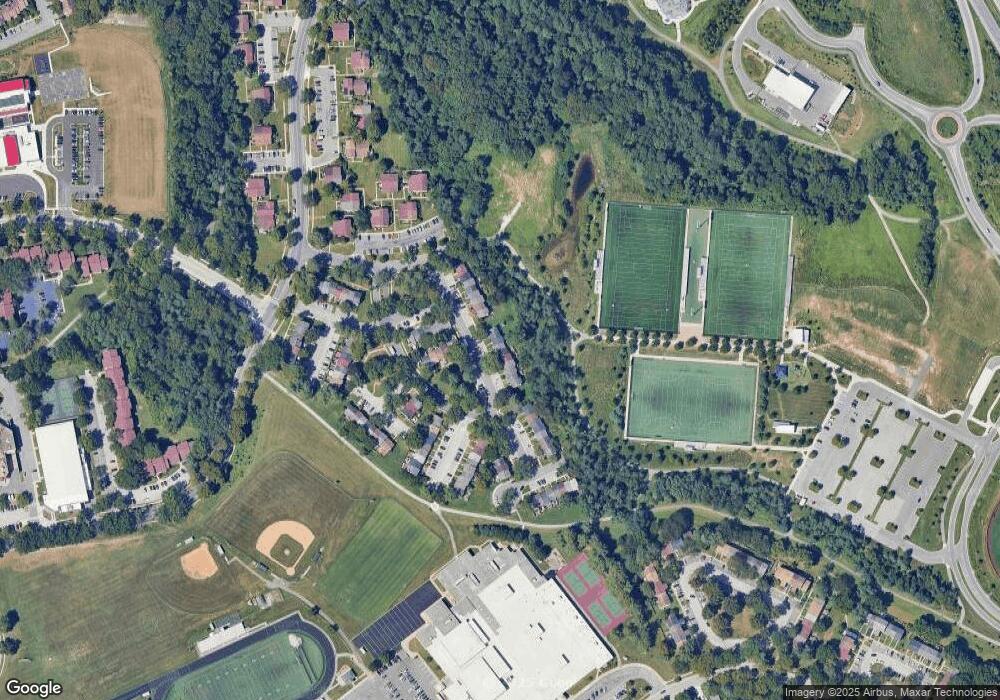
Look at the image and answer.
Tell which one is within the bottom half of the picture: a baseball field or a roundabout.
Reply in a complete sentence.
Looking within the bottom half of the picture, you will find a baseball field.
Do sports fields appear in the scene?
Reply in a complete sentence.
Yes, the image includes a sports field.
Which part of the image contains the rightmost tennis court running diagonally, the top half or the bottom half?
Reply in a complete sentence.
Seen from above, the rightmost tennis court running diagonally lies in the bottom half of the view.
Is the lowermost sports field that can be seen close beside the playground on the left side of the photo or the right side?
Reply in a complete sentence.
The lowermost sports field that can be seen close beside the playground sits on the right side.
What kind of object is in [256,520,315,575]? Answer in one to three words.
baseball field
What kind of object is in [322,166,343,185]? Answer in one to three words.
house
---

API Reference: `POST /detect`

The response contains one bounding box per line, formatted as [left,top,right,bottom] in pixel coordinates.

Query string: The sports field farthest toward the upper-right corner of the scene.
[704,210,791,341]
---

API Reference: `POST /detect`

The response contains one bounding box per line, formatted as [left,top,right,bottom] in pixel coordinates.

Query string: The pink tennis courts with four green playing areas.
[558,553,627,635]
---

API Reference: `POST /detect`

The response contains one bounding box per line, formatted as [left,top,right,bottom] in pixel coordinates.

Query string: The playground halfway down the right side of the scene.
[772,362,810,385]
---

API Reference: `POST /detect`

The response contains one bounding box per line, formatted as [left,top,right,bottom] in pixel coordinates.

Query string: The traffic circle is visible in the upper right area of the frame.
[928,105,969,146]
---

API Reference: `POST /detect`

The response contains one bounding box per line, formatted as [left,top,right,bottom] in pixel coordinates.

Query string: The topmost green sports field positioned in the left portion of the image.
[318,497,441,622]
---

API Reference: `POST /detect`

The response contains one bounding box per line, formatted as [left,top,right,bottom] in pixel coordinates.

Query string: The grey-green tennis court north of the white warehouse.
[47,377,80,421]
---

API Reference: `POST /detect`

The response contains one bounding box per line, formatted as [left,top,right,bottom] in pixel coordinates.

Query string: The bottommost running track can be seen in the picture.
[105,611,336,700]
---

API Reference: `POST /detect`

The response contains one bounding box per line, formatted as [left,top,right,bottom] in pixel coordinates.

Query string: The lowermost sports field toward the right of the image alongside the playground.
[626,356,757,445]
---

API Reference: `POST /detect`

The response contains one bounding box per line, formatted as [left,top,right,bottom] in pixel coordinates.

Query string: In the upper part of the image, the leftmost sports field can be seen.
[601,203,688,334]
